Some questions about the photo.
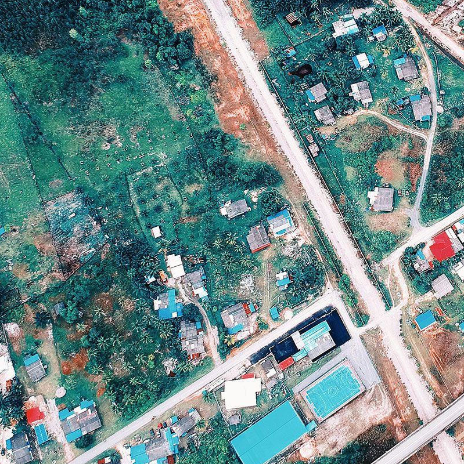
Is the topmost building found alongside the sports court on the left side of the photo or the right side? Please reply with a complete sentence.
The topmost building found alongside the sports court appears in the right half of the scene.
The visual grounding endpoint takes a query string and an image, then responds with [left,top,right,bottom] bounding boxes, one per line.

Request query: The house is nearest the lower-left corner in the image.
[5,432,35,464]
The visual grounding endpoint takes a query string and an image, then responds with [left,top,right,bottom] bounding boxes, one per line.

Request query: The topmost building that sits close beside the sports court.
[290,320,336,359]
